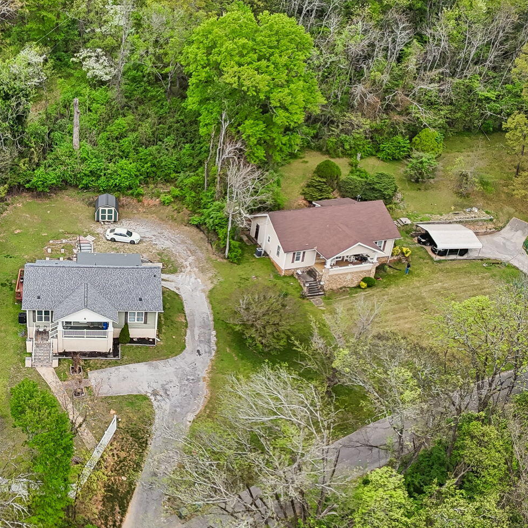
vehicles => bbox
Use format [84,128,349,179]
[403,232,434,247]
[421,242,465,258]
[103,226,140,244]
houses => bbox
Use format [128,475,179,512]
[244,195,403,308]
[12,253,164,367]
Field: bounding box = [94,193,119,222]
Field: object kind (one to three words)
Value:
shed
